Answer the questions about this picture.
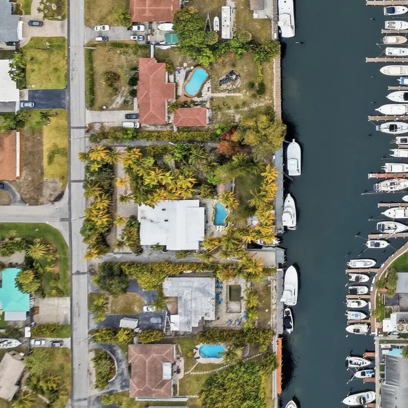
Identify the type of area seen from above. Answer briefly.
residential area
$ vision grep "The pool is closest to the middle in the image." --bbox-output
[213,202,228,227]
